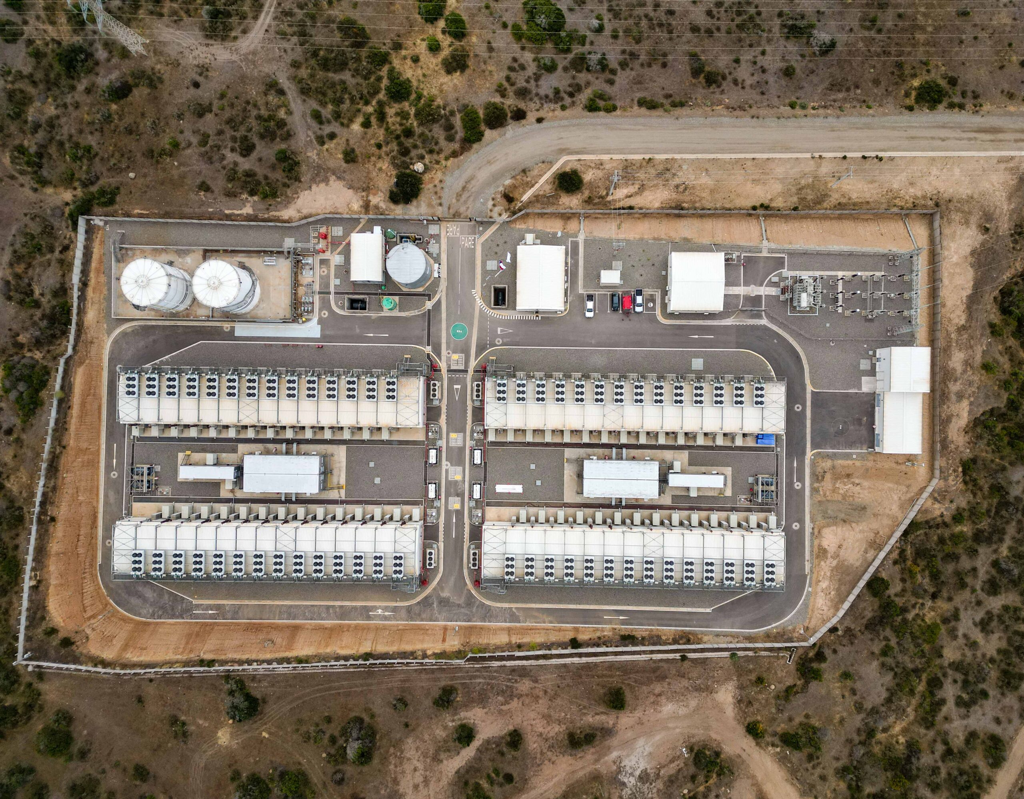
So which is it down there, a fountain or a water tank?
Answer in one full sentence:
There is a water tank in the scene.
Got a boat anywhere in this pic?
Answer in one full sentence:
No, no boat can be seen from above.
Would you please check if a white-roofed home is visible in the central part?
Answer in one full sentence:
Yes, a white-roofed home is visible in the central part.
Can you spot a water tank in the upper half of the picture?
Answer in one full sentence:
Yes, the scene does show a water tank in the upper half of the picture.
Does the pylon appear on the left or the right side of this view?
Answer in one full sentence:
You can find the pylon on the left side of the picture.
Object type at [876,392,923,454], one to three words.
building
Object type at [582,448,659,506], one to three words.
house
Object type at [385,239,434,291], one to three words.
water tank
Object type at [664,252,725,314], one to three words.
building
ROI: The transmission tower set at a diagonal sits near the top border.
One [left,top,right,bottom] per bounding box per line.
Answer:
[63,0,152,57]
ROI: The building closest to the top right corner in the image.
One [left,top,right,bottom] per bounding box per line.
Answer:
[876,347,931,392]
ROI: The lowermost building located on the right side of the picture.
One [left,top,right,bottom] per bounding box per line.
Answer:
[477,515,786,596]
